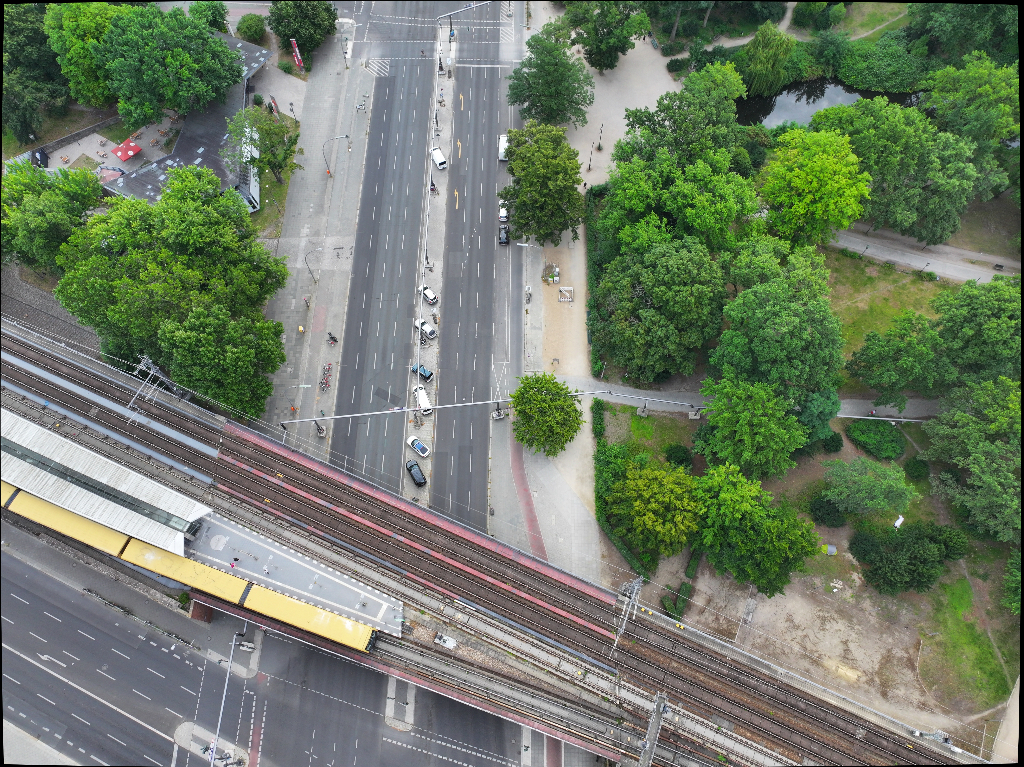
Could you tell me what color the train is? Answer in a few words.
yellow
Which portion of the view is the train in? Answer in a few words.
bottom left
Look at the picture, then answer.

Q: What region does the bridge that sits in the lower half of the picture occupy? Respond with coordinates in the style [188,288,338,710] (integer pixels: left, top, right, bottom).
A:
[0,316,999,767]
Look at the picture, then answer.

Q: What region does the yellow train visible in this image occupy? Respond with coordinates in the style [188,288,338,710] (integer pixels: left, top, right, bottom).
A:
[0,481,381,655]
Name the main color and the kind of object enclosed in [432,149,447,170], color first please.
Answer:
white vehicle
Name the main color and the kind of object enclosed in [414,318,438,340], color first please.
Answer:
white car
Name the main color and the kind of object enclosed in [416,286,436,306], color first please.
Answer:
white car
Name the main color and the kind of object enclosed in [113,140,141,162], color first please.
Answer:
red umbrella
